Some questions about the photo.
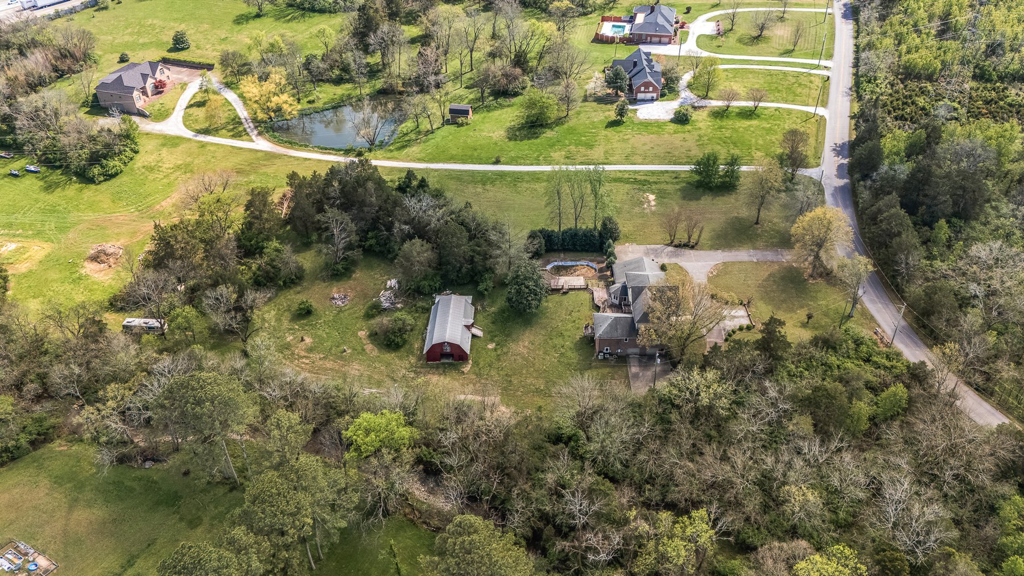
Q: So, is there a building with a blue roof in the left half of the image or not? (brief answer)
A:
No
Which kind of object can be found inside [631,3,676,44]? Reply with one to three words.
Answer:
house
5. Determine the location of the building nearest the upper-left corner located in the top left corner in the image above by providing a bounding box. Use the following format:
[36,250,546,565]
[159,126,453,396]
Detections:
[83,60,174,117]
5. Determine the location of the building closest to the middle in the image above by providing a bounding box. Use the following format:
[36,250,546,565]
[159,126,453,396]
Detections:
[424,293,483,362]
